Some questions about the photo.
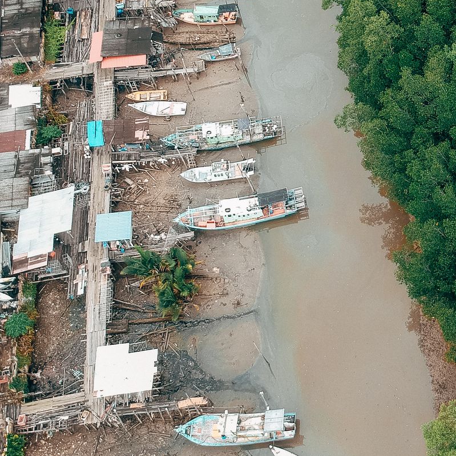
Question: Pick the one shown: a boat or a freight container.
boat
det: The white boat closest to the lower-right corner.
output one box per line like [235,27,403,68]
[267,442,301,456]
